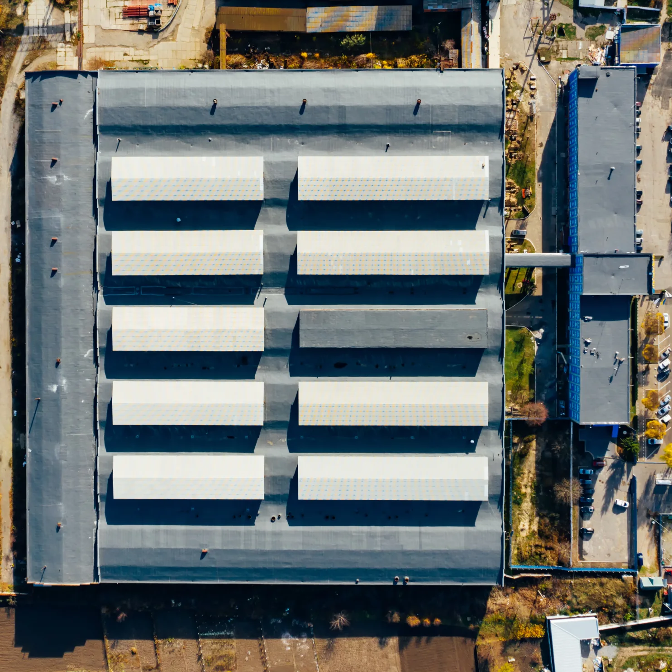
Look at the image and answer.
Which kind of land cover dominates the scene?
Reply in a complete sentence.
For the most part, this view shows buildings.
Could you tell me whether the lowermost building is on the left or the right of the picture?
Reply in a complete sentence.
You can find the lowermost building on the right side of the picture.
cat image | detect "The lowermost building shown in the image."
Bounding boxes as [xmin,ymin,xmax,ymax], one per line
[546,613,600,672]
